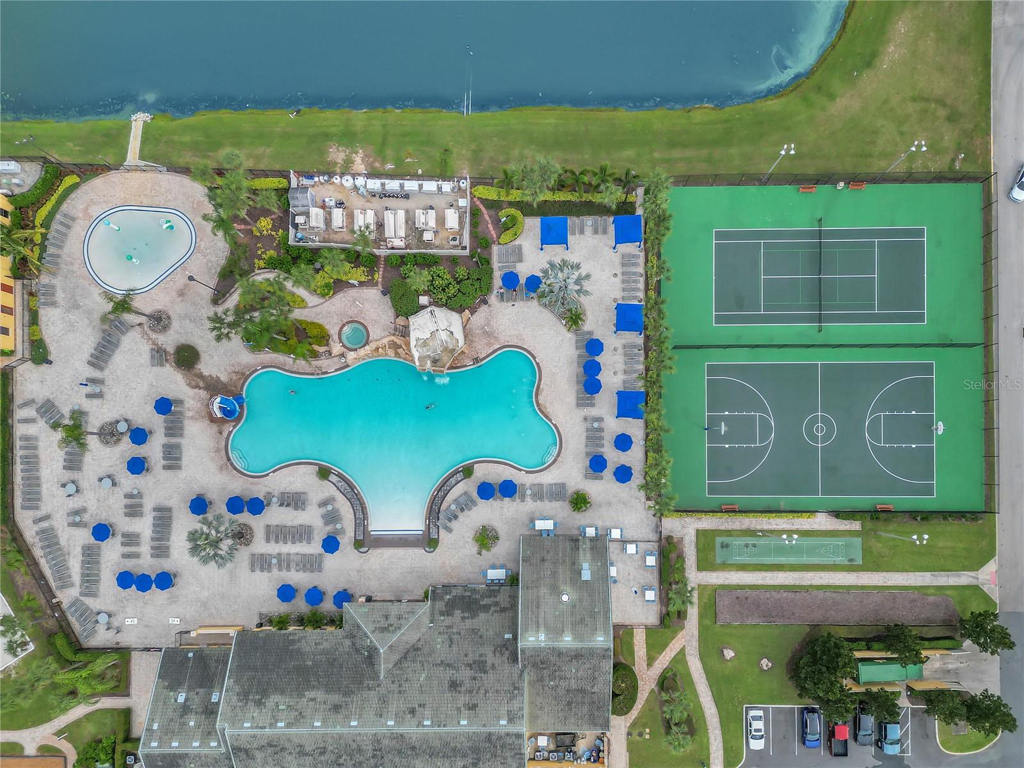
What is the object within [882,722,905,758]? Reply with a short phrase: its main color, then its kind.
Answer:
blue car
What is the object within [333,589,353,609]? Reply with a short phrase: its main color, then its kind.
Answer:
blue umbrella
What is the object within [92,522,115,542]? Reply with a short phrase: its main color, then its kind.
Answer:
blue umbrella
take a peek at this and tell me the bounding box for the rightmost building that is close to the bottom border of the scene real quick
[139,536,613,768]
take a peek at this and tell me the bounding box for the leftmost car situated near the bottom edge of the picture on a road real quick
[747,709,768,753]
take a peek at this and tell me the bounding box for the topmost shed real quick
[288,183,313,209]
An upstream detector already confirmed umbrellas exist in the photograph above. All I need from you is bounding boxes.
[524,275,543,294]
[582,358,602,377]
[189,497,209,516]
[613,464,633,484]
[130,427,150,446]
[154,396,176,416]
[127,456,149,476]
[584,338,604,358]
[583,377,602,396]
[613,433,633,452]
[501,271,521,291]
[226,495,246,515]
[321,534,341,554]
[498,479,517,498]
[247,496,266,516]
[154,571,174,591]
[116,570,136,589]
[135,573,155,592]
[333,589,353,609]
[92,522,115,542]
[476,481,496,501]
[304,587,324,606]
[277,583,297,603]
[588,454,608,473]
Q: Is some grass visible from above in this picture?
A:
Yes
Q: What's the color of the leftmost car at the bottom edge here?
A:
white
